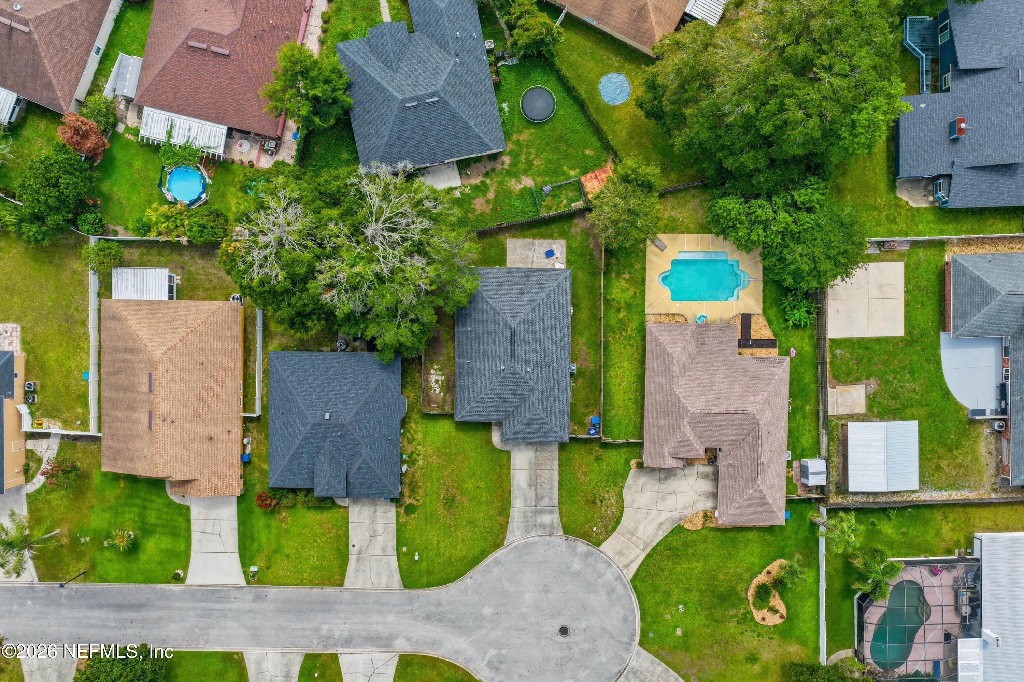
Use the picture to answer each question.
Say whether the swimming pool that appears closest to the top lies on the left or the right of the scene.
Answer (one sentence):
You can find the swimming pool that appears closest to the top on the left side of the picture.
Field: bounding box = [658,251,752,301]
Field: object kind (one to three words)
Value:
swimming pool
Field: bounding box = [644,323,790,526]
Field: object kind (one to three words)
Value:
house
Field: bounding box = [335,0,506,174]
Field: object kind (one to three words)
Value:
house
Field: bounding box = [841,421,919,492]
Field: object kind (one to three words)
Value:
shed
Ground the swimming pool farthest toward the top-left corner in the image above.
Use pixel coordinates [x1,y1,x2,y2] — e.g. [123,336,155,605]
[159,157,211,207]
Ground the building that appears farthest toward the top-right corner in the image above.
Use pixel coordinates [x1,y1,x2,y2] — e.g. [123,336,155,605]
[891,0,1024,208]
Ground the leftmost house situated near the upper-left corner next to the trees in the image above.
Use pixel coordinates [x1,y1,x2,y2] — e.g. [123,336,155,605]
[0,0,126,115]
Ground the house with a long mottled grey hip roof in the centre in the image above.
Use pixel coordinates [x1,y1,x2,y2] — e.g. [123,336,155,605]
[454,268,571,444]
